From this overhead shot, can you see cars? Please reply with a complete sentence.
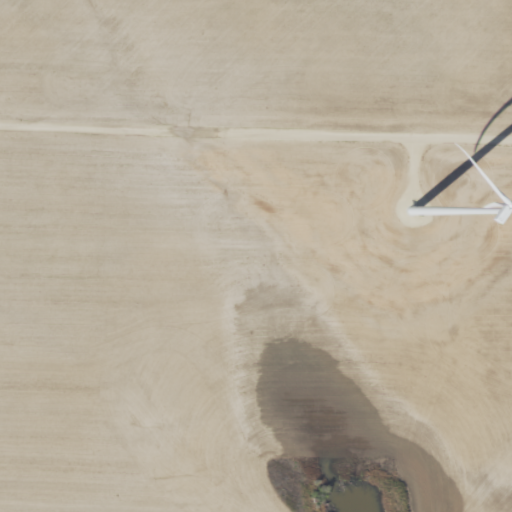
No, the scene contains no car.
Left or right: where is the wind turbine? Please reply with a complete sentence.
The wind turbine sits on the right side.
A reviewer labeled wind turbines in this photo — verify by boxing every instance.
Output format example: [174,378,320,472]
[406,143,512,224]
